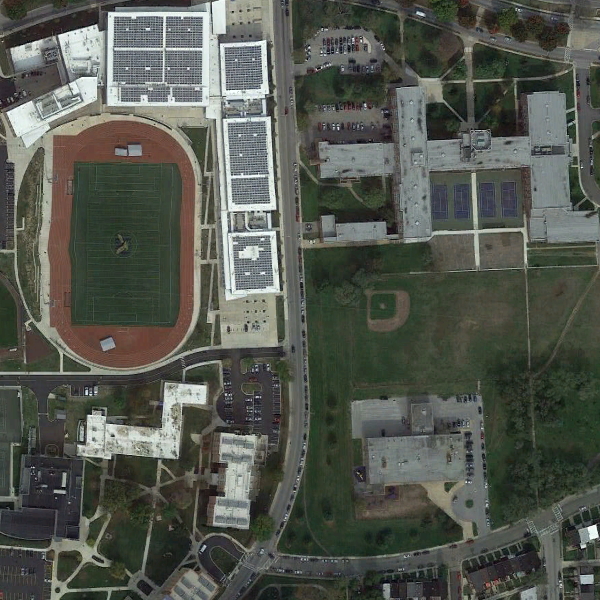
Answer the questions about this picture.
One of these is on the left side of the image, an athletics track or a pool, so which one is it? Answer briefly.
athletics track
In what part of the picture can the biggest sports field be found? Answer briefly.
left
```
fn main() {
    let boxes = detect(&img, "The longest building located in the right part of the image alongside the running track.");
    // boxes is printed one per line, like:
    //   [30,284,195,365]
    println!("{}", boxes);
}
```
[309,87,599,244]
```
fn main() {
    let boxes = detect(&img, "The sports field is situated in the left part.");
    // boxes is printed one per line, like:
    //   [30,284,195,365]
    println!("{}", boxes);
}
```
[69,163,182,327]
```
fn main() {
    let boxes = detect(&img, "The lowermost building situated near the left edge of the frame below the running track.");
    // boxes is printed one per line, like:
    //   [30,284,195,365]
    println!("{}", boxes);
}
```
[0,455,84,540]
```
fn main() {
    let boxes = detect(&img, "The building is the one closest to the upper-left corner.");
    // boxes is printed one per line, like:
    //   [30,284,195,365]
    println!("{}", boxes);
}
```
[6,35,59,74]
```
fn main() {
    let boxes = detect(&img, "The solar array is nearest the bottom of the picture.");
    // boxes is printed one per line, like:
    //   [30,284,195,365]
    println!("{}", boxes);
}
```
[233,236,273,289]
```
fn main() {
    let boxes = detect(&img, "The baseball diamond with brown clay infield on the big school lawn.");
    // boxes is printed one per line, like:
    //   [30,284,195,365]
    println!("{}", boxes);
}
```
[365,290,410,332]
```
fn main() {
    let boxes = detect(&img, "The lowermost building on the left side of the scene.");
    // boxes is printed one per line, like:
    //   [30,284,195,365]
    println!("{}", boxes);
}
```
[166,568,219,600]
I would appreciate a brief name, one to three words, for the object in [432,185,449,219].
tennis court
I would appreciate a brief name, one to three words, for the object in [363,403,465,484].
building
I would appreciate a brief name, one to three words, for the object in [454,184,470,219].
tennis court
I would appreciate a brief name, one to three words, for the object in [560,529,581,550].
house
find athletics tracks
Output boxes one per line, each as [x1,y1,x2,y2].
[48,121,195,367]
